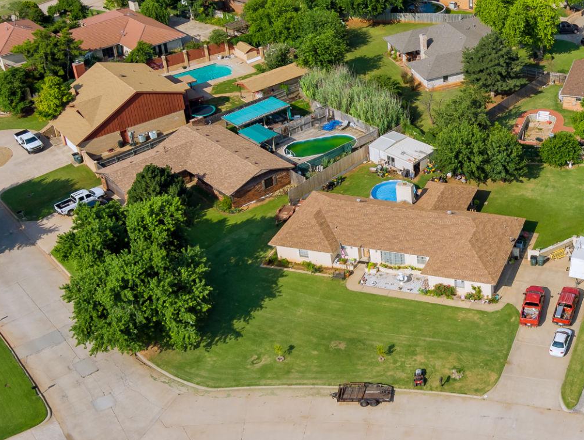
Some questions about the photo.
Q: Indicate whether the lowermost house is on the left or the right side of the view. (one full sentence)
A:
The lowermost house is on the right side of the image.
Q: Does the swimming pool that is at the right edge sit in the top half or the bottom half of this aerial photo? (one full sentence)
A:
You can find the swimming pool that is at the right edge in the top half.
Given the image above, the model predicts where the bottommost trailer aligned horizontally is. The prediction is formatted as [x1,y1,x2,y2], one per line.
[331,383,389,407]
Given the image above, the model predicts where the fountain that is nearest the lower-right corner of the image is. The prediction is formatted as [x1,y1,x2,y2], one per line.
[393,269,413,286]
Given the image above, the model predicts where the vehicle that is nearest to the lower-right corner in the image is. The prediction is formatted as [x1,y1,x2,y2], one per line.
[550,326,575,361]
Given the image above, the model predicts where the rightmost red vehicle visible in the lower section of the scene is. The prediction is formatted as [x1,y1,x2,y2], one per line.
[554,290,579,326]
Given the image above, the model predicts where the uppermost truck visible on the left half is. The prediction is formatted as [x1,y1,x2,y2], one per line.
[15,129,42,152]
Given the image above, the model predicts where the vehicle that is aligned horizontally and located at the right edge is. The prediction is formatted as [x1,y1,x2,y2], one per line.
[556,21,583,34]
